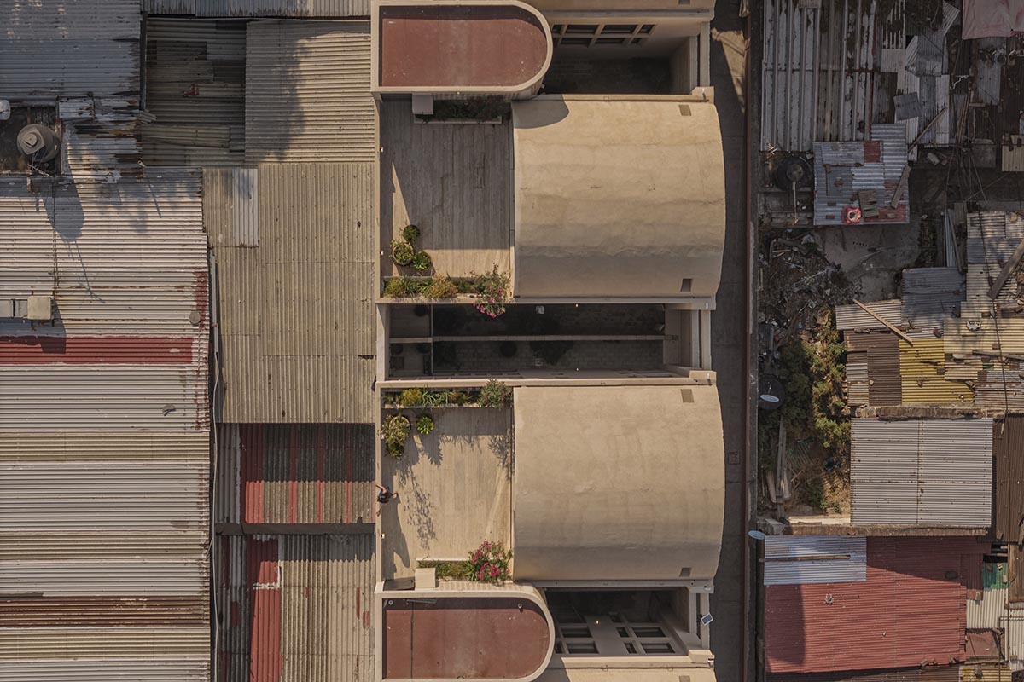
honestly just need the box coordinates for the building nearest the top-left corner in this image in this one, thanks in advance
[0,0,142,102]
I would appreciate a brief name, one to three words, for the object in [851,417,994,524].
house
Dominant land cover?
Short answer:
buildings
